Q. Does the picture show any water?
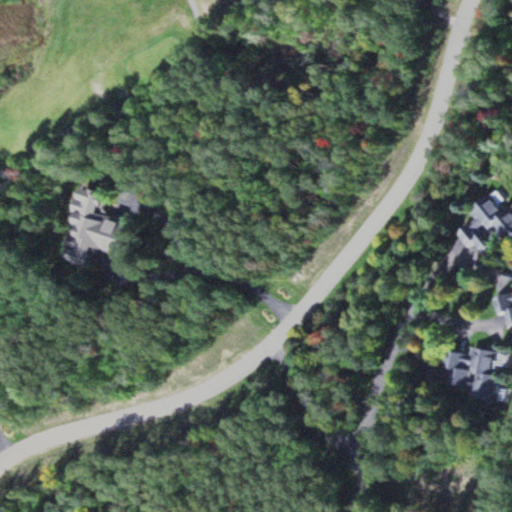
No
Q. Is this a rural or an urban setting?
rural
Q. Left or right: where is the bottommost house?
right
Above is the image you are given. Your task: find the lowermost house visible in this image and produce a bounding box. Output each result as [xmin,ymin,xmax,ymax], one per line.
[445,344,497,392]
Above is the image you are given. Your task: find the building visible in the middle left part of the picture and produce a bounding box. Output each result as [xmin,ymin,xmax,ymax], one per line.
[66,189,120,254]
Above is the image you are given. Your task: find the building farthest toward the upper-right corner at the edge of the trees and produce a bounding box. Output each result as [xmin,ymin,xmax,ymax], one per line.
[454,188,512,258]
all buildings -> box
[445,344,497,392]
[66,189,120,254]
[491,276,512,339]
[454,188,512,258]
